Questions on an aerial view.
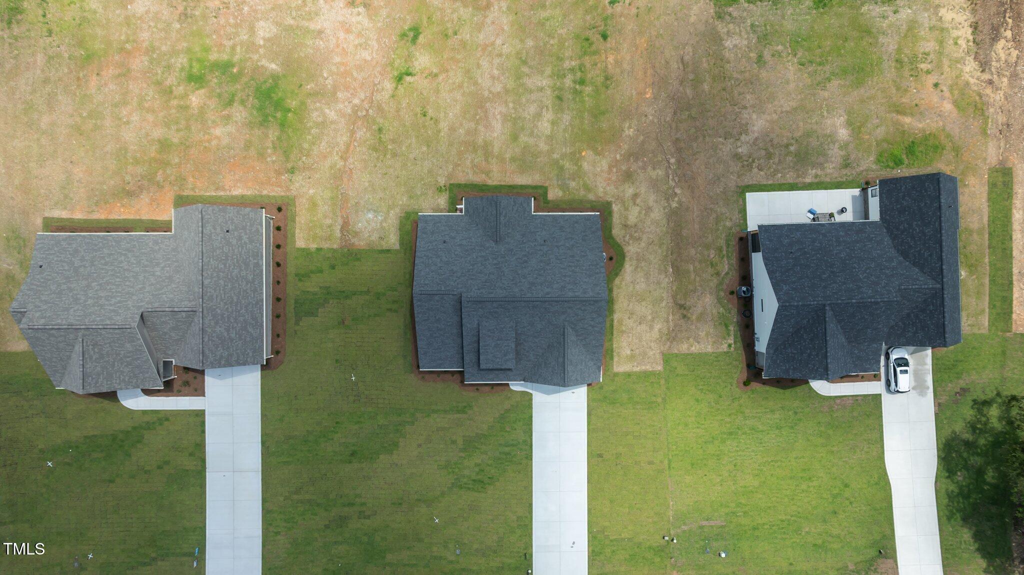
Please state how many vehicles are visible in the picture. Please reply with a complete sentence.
There is 1 vehicle in the image.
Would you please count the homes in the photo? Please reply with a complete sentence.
Looking from above, you can make out 3 homes.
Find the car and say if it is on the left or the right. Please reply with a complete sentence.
It is on the right.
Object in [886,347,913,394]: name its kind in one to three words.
car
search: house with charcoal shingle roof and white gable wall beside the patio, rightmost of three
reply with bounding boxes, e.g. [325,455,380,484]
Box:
[742,172,964,382]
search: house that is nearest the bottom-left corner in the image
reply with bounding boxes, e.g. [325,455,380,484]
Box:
[12,204,274,396]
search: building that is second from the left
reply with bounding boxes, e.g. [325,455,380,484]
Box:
[413,195,607,388]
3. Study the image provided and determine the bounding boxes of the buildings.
[12,204,274,396]
[413,195,607,388]
[742,172,964,382]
